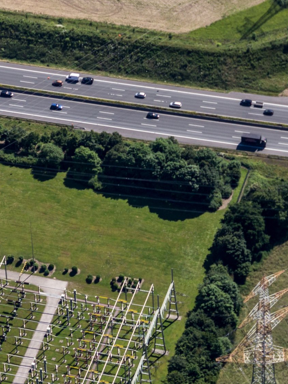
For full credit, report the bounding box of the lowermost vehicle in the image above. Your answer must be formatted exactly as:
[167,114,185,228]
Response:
[242,133,266,147]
